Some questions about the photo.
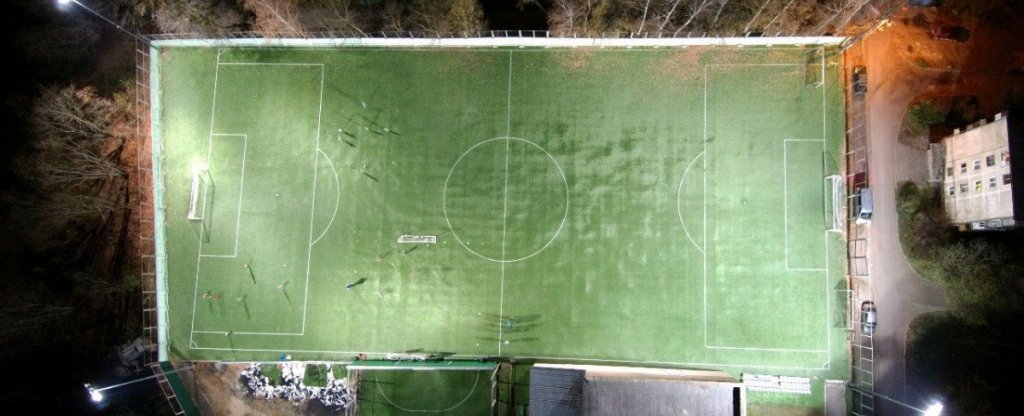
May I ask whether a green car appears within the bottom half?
No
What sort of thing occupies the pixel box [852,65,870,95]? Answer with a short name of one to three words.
car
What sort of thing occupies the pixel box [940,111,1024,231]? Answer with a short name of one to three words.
building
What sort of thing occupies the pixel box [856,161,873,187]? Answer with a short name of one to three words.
car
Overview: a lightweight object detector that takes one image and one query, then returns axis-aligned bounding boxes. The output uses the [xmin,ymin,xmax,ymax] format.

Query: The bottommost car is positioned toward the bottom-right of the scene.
[860,301,879,334]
